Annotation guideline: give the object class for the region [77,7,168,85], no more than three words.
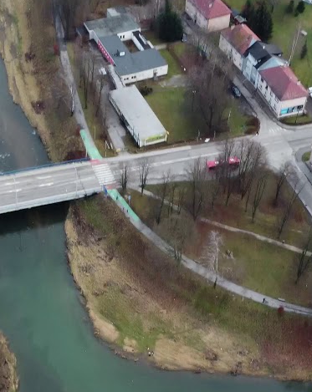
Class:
building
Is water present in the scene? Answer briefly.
Yes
